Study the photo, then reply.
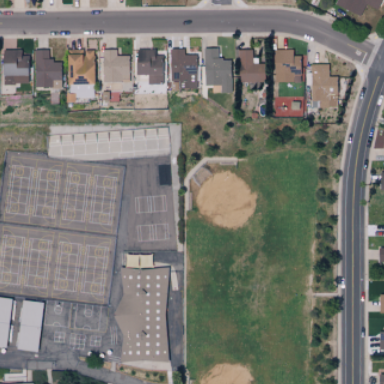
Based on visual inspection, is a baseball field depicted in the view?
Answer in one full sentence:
Yes, there's a baseball field here.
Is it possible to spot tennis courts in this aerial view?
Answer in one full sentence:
Yes, this view includes a tennis court.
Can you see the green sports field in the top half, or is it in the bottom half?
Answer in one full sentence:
You can find the green sports field in the bottom half.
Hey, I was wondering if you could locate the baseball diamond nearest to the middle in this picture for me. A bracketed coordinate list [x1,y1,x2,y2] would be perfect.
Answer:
[188,160,258,228]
